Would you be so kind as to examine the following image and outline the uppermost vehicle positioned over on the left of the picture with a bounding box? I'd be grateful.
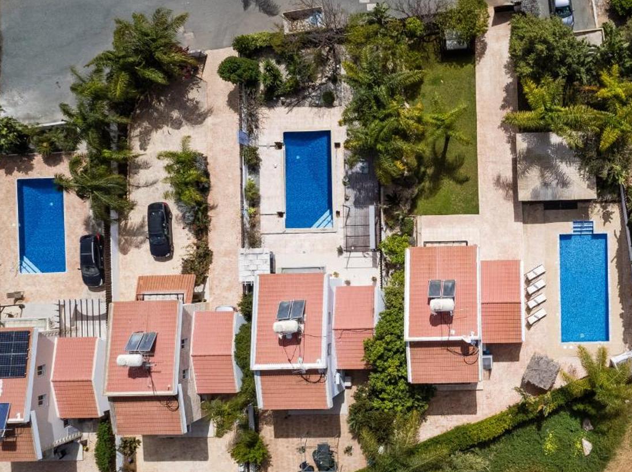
[144,203,176,257]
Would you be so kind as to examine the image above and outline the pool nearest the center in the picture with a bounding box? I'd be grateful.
[280,128,335,231]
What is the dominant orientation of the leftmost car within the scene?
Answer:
vertically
